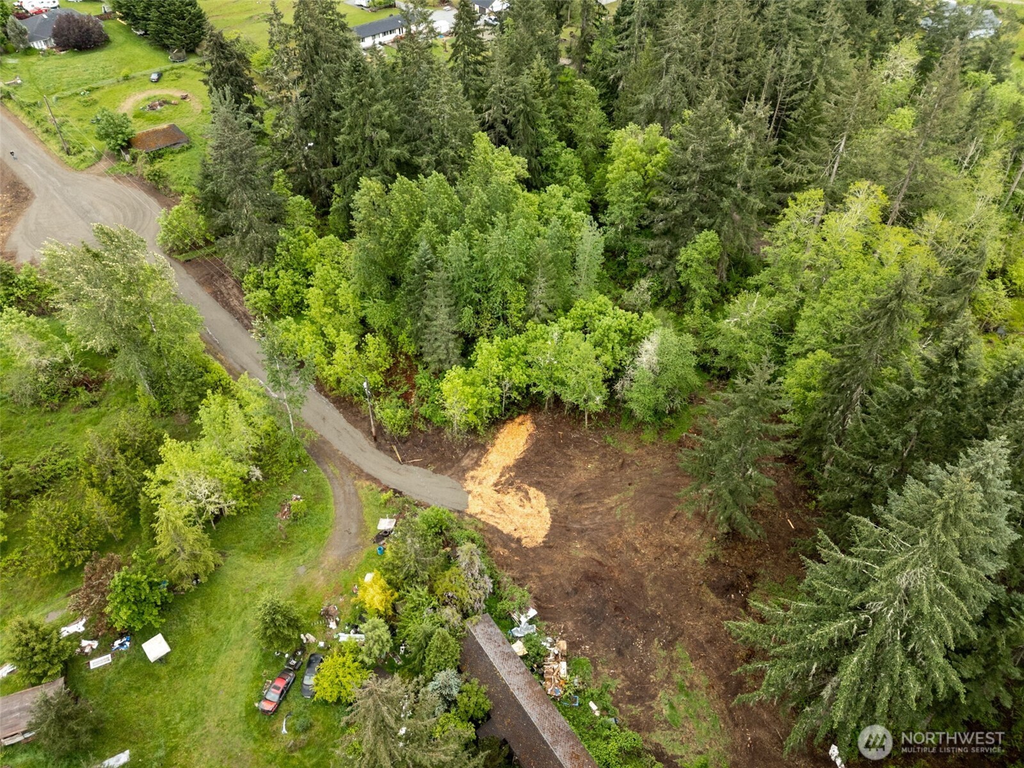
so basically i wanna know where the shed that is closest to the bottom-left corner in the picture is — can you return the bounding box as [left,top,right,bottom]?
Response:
[0,677,71,751]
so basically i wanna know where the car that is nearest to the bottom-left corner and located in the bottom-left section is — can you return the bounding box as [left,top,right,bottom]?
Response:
[257,663,296,715]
